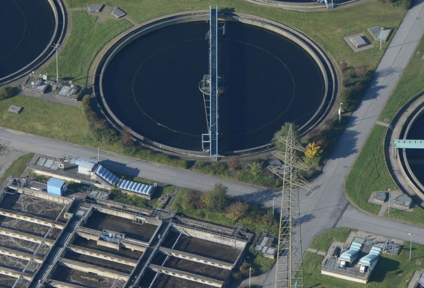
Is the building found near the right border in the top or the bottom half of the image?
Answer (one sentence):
Seen from above, the building found near the right border lies in the bottom half of the view.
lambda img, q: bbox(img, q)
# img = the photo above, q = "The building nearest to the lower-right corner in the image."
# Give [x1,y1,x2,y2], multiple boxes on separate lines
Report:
[320,234,415,285]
